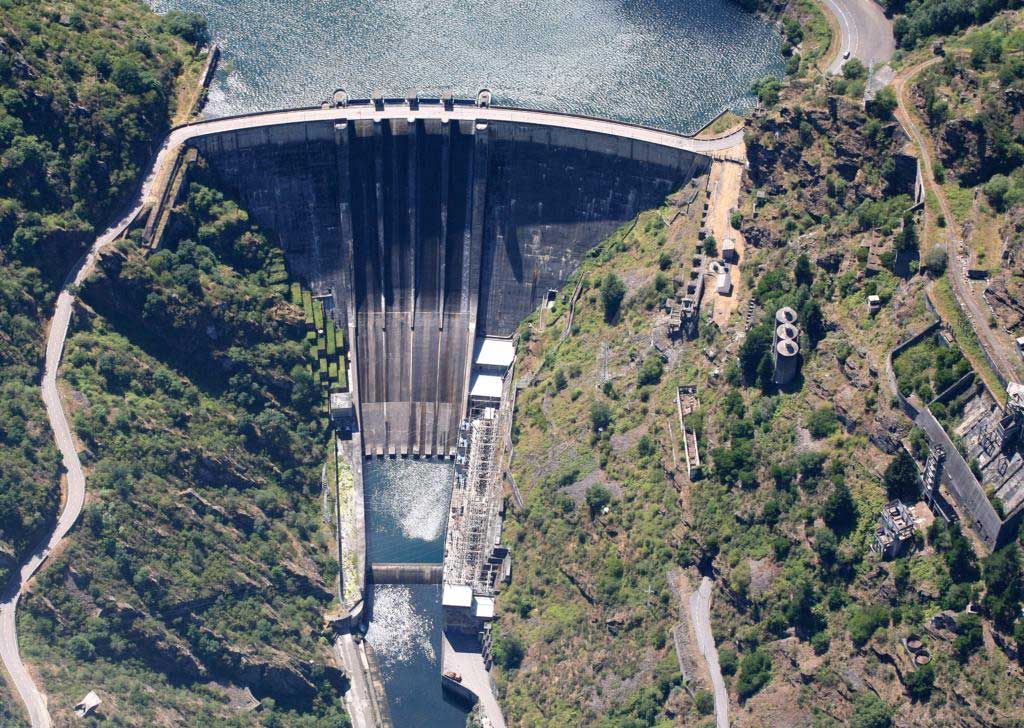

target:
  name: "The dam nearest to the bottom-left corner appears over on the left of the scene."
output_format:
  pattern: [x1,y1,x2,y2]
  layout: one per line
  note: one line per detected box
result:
[366,563,445,589]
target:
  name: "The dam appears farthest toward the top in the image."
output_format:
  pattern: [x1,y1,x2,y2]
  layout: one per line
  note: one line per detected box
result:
[178,90,703,459]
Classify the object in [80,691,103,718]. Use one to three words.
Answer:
shed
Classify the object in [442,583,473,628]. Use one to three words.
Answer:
building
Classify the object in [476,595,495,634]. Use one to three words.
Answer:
building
